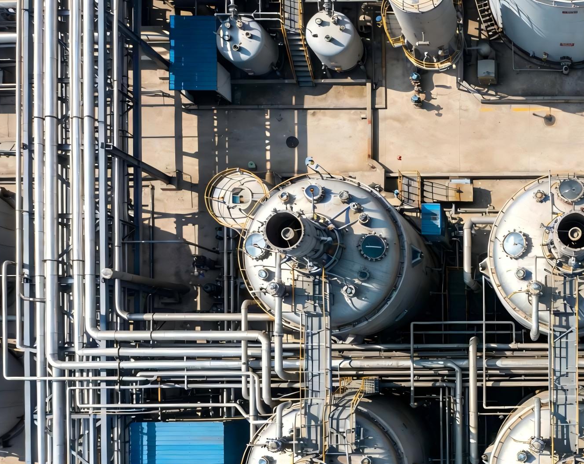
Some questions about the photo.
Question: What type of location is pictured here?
industrial area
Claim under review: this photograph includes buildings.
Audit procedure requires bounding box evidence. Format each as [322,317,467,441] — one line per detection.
[170,15,231,102]
[129,417,262,464]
